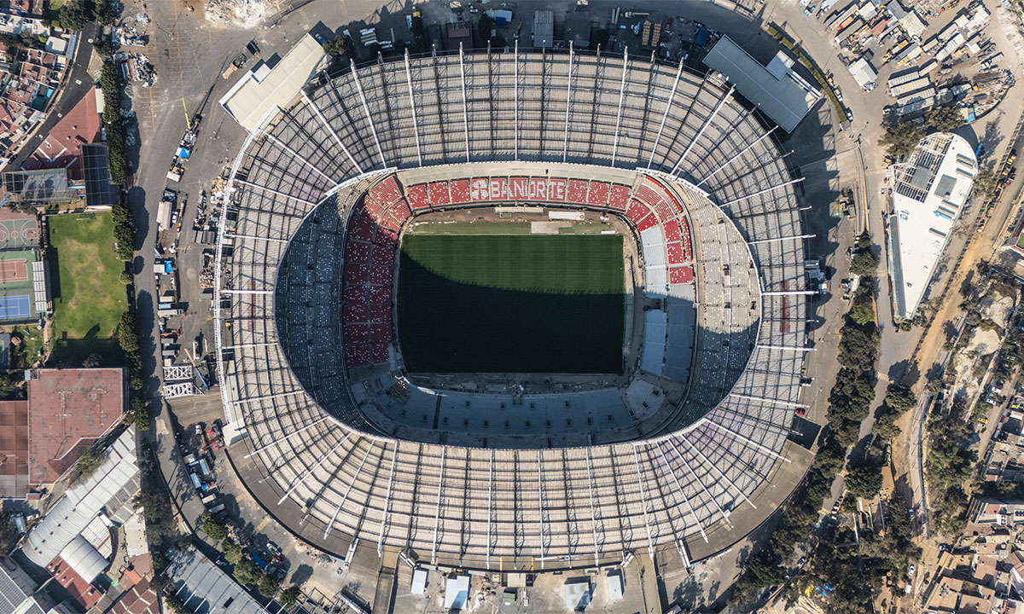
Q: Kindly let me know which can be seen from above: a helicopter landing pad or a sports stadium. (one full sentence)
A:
The one in the frame is a sports stadium.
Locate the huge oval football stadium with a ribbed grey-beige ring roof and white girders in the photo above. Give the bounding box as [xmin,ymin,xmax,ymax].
[218,38,819,571]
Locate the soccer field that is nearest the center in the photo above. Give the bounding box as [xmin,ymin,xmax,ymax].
[399,222,625,375]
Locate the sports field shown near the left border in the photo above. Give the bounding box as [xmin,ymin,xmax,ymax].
[47,212,130,367]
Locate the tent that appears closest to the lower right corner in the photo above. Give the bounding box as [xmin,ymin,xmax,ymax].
[606,573,622,600]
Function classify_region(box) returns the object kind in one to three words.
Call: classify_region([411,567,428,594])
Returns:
tent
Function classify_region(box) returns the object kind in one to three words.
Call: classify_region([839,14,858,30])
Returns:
vehicle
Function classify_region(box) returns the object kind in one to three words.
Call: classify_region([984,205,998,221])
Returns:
vehicle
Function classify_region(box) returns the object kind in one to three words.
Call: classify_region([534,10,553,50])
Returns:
shed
